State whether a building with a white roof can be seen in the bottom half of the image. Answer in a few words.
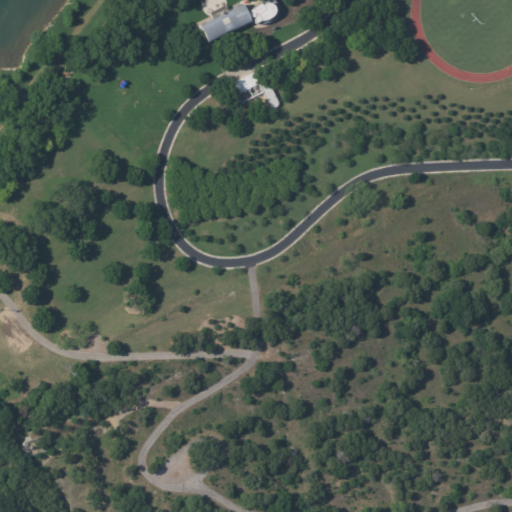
No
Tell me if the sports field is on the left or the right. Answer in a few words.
right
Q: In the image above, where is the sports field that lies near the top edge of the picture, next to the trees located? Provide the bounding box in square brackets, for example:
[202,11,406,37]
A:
[420,0,512,73]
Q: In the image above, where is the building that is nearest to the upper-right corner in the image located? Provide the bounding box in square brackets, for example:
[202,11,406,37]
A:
[252,2,279,24]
